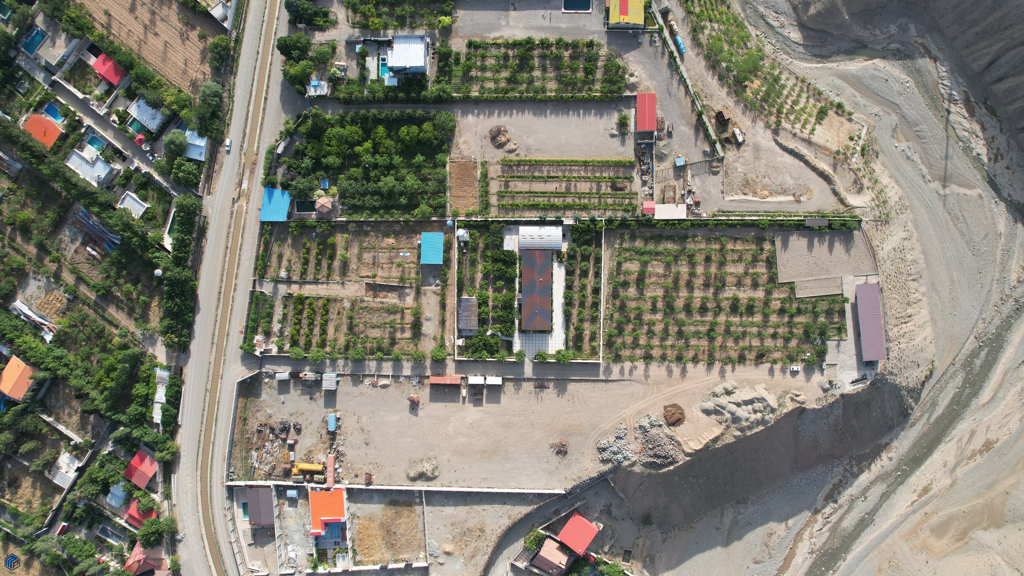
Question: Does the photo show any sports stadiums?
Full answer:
Yes, there is a sports stadium in the image.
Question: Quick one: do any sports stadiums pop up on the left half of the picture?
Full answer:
No, I can find no sports stadium on the left half of the picture.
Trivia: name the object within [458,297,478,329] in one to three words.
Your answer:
shed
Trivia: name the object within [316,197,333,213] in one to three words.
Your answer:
gazebo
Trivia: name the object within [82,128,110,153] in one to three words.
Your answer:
swimming pool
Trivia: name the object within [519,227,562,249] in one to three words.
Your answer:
building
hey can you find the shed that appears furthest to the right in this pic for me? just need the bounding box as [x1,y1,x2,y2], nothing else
[851,284,885,361]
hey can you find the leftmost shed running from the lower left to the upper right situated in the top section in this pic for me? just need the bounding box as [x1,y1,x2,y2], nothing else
[54,39,84,65]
